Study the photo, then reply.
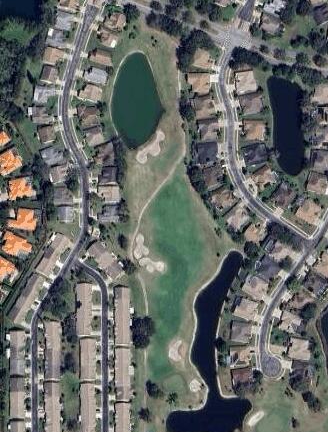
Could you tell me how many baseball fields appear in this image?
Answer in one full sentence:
Not a single baseball field can be seen.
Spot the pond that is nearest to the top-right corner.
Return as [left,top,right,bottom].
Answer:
[266,76,306,175]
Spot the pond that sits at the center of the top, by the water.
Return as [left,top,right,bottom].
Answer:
[111,51,163,148]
